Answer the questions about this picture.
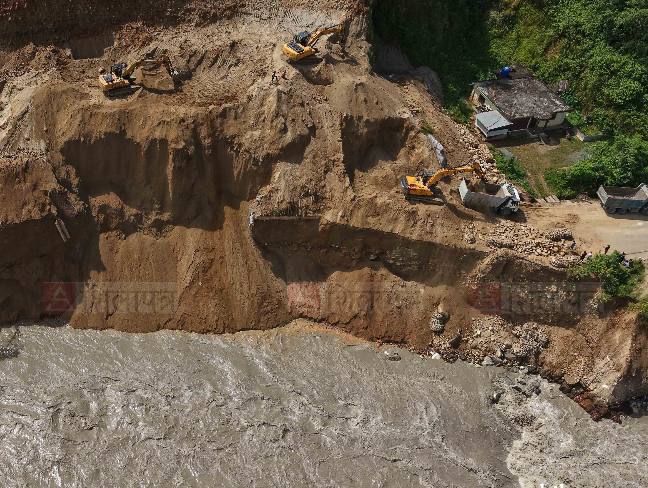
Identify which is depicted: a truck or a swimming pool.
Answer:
truck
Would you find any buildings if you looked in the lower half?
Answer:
No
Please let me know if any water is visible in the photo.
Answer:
Yes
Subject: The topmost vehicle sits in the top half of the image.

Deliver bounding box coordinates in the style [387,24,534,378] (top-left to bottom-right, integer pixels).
[284,22,346,65]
